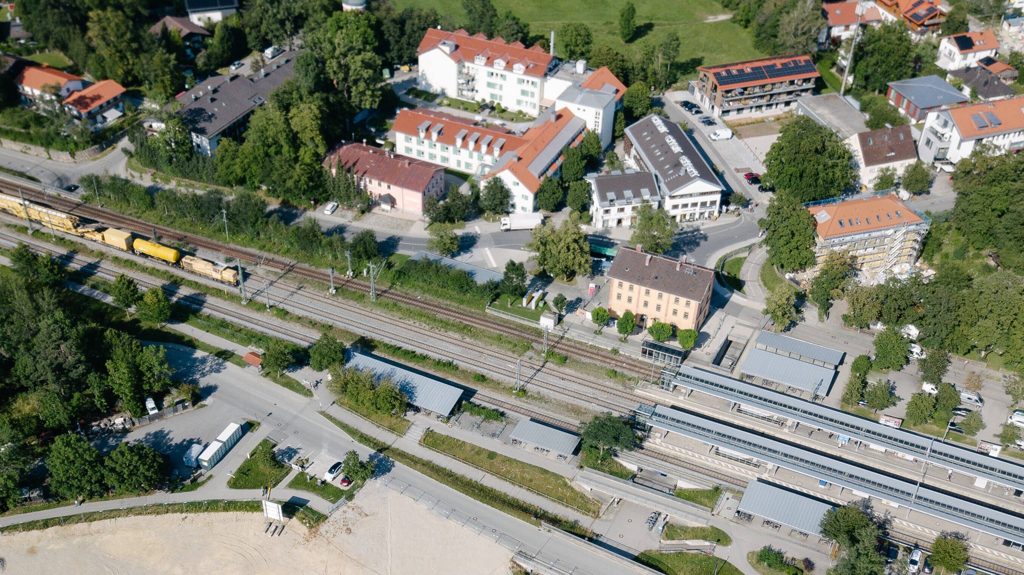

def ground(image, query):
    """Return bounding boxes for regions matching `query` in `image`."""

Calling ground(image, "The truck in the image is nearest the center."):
[501,212,545,234]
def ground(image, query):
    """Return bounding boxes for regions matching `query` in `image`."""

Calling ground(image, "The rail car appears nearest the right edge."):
[179,254,240,285]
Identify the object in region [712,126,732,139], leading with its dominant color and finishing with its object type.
white vehicle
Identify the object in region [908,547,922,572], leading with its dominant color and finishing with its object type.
white car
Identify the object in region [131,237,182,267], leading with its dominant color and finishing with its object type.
yellow rail car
